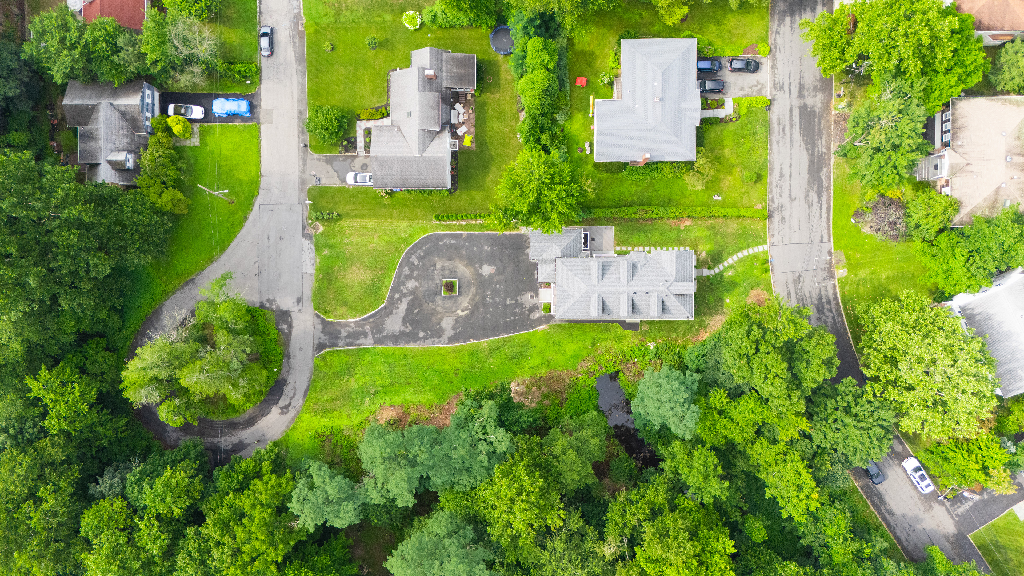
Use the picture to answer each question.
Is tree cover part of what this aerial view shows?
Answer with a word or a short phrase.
Yes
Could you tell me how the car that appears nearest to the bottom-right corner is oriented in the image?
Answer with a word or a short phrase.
on a diagonal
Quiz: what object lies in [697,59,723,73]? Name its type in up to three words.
car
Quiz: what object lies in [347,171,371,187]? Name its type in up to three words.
car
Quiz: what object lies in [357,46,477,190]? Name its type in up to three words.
house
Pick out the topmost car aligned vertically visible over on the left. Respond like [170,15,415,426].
[259,26,275,59]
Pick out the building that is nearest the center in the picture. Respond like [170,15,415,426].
[530,228,696,323]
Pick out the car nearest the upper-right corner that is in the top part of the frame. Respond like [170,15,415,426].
[727,57,759,73]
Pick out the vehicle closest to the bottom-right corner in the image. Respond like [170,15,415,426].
[902,456,935,494]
